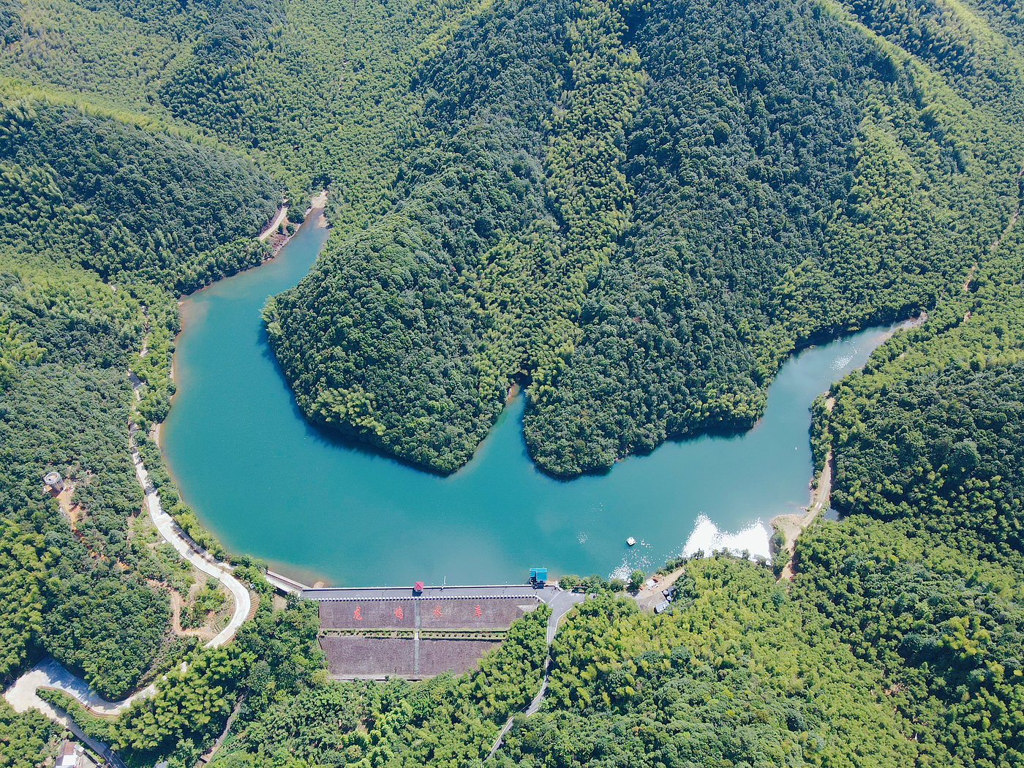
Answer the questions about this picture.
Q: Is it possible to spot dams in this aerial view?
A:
Yes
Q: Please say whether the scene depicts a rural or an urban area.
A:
rural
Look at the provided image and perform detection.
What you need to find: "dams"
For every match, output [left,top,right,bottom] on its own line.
[297,579,562,683]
